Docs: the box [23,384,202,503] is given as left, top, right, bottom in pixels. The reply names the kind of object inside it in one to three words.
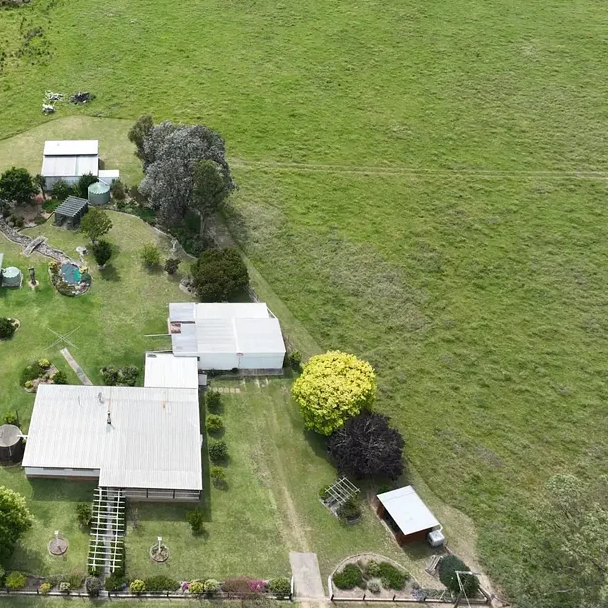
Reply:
house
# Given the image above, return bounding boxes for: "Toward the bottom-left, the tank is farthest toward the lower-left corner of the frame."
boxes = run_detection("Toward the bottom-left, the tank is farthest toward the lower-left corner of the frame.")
[0,422,29,465]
